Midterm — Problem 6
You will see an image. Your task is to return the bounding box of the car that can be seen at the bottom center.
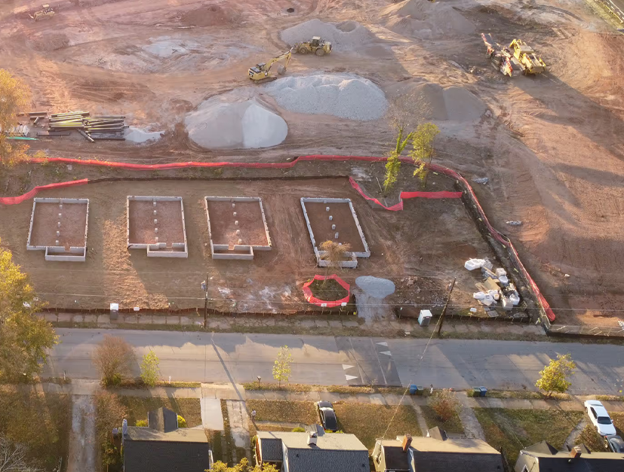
[313,397,345,431]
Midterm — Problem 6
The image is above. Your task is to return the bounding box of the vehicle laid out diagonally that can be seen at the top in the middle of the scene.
[247,45,292,84]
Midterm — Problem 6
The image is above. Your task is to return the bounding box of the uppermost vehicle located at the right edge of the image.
[580,397,624,432]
